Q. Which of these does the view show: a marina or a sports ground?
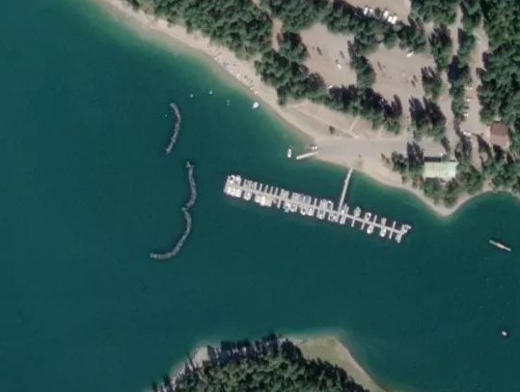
marina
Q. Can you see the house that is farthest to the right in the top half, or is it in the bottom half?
top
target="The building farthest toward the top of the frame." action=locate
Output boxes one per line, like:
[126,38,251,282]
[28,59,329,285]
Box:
[486,123,509,150]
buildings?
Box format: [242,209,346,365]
[424,162,457,180]
[486,123,509,150]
